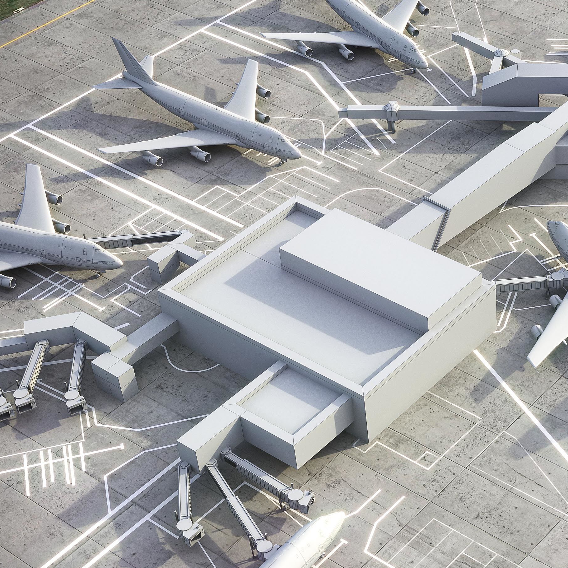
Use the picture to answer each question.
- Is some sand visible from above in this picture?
No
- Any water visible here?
No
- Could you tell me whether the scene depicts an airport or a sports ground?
airport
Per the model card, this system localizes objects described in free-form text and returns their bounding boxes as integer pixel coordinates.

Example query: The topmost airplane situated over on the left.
[89,37,302,166]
